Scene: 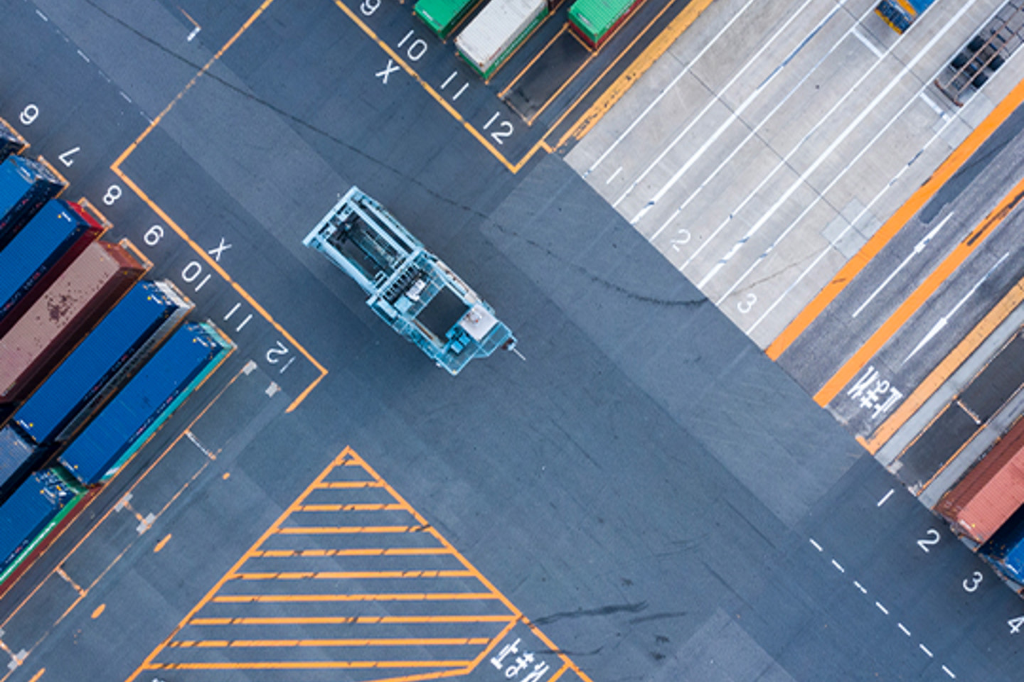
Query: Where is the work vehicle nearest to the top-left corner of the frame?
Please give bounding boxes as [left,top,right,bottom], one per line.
[302,187,526,376]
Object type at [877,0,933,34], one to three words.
truck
